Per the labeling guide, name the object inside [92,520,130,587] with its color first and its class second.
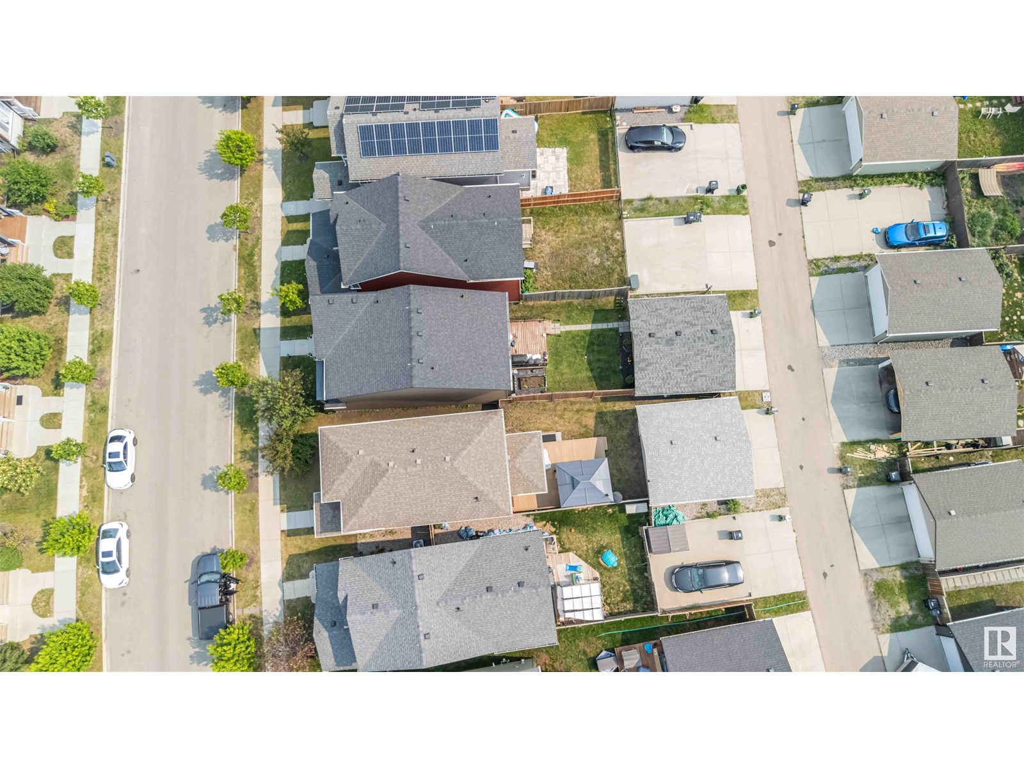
white car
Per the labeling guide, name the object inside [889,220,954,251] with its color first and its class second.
blue car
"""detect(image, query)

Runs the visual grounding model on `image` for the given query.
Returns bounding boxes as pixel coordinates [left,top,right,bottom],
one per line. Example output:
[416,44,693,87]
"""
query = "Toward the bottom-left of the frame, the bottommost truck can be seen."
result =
[191,555,242,644]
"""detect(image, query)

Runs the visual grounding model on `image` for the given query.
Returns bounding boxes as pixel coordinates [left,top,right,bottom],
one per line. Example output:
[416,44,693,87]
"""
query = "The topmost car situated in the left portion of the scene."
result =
[100,427,138,490]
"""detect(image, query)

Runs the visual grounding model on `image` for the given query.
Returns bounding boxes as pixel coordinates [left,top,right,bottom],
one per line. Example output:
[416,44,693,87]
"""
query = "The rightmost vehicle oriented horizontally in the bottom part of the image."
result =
[673,561,750,600]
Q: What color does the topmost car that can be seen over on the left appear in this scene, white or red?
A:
white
